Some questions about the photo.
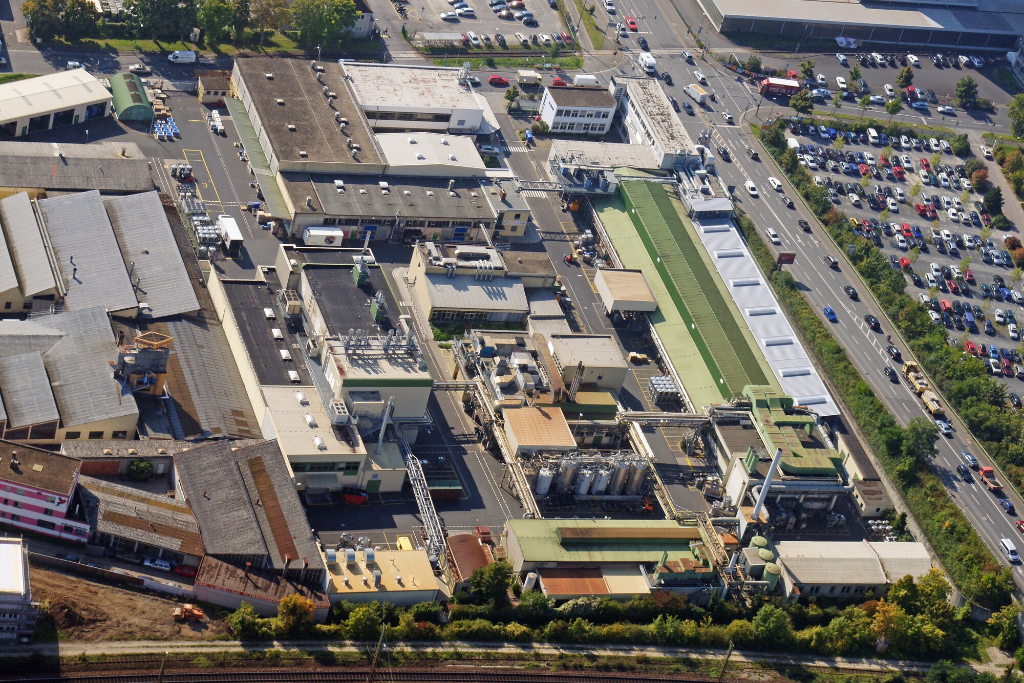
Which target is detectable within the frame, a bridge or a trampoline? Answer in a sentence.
The one in the frame is a bridge.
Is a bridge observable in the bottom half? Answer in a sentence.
Yes, there is a bridge in the bottom half.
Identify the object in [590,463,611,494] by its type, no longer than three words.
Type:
silo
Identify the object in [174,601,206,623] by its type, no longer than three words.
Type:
work vehicle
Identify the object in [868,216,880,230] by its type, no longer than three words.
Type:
vehicle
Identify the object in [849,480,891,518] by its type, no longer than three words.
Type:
house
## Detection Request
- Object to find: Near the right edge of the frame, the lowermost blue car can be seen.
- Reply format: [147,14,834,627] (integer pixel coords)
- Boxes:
[999,500,1015,514]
